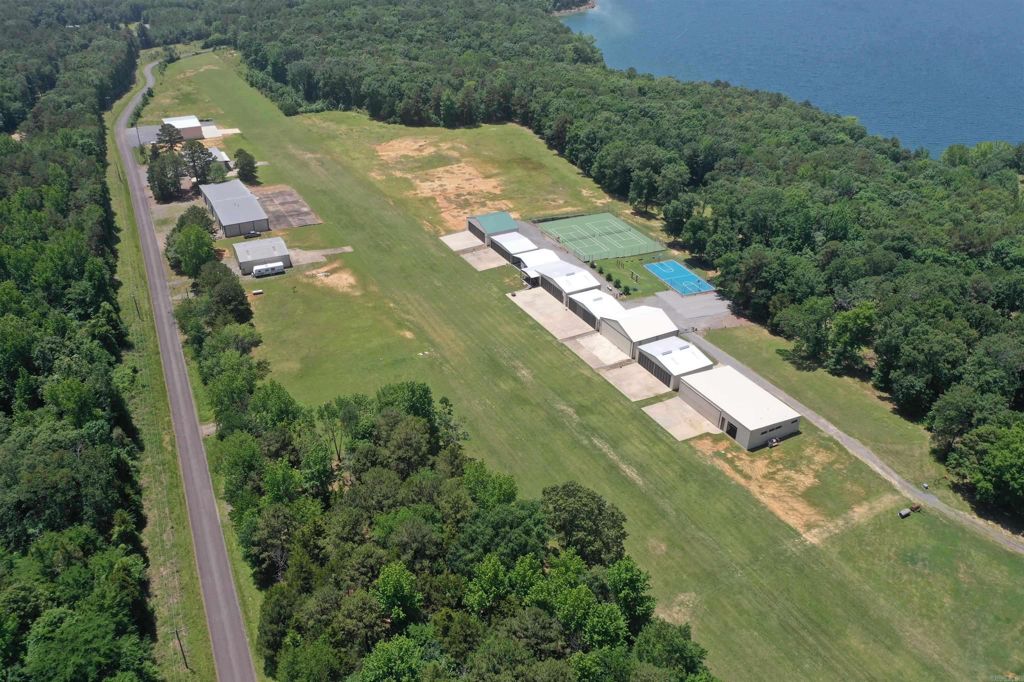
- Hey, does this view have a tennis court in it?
Yes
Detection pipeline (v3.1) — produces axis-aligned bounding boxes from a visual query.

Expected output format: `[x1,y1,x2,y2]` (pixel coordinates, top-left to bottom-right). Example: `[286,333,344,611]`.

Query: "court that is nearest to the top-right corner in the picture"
[644,260,714,295]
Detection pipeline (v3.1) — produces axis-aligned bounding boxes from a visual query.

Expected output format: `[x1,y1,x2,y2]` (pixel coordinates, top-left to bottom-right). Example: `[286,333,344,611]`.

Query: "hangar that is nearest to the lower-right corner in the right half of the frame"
[679,365,804,450]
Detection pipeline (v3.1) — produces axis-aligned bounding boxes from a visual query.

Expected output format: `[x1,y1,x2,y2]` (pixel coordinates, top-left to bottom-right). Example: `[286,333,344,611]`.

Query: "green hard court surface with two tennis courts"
[534,212,667,262]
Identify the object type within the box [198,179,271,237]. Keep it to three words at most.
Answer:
hangar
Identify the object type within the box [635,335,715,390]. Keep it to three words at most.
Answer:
hangar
